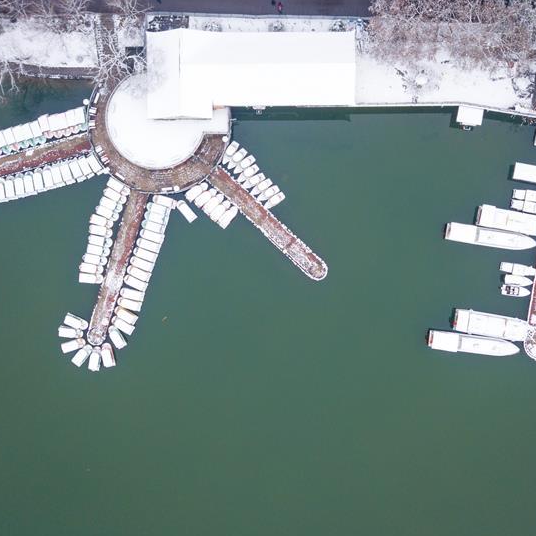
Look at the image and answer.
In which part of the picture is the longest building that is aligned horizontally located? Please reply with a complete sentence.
The longest building that is aligned horizontally appears toward the top of the photo.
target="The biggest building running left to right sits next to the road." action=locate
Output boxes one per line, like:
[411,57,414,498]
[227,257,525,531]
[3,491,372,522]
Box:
[146,29,356,118]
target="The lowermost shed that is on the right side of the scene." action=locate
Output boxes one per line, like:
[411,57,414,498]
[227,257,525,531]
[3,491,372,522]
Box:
[455,104,484,129]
